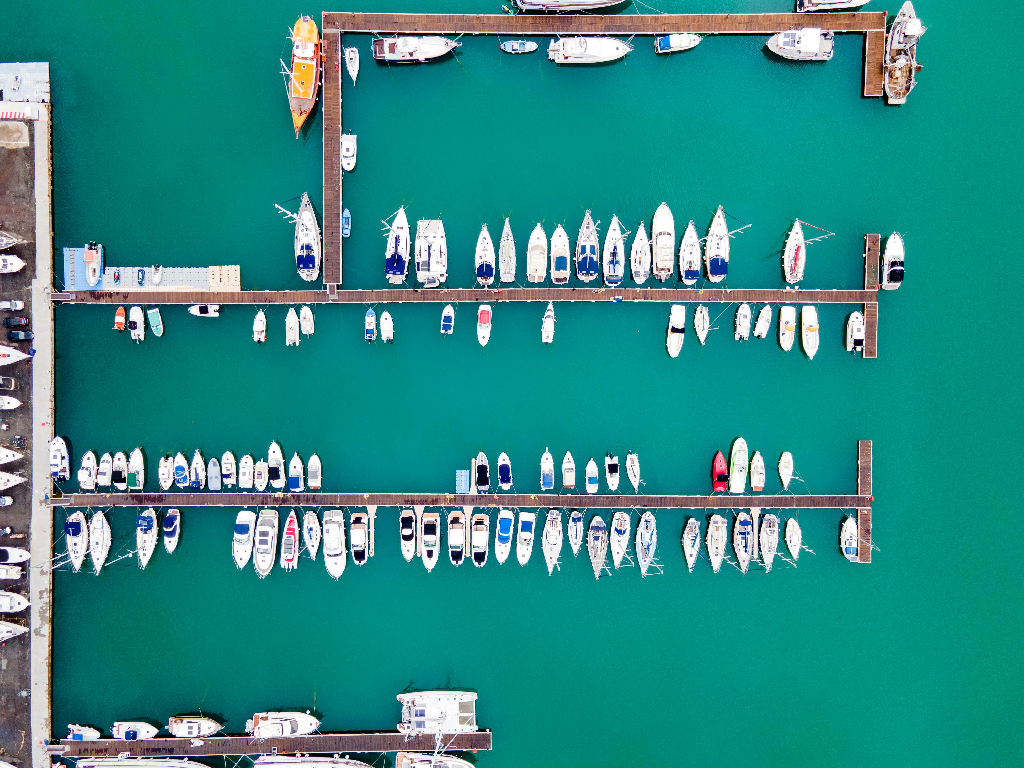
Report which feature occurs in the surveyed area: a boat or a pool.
boat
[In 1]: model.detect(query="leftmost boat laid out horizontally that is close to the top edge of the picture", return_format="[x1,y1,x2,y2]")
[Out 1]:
[373,33,461,64]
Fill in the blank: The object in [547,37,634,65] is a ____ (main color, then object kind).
white boat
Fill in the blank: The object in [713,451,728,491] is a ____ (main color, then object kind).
red boat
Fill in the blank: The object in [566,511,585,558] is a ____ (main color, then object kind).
white boat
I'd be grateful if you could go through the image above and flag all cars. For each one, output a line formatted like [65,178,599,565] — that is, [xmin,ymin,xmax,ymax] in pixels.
[0,496,16,507]
[0,299,26,311]
[7,330,36,341]
[4,316,30,328]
